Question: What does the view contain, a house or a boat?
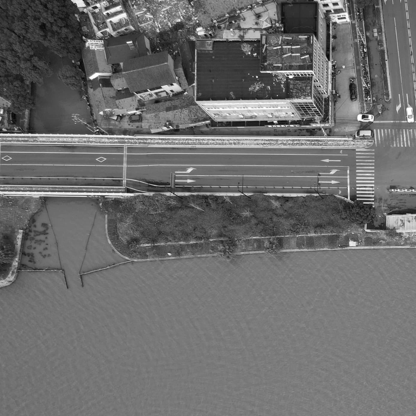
house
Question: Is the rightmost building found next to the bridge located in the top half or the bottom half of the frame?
top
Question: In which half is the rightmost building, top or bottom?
top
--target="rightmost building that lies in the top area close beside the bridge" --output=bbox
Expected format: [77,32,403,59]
[196,2,330,119]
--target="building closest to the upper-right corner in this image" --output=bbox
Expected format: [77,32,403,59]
[321,0,351,21]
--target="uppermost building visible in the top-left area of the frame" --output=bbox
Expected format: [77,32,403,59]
[74,0,139,38]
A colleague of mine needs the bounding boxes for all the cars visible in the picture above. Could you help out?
[406,106,414,124]
[358,113,375,122]
[7,111,17,127]
[356,130,374,139]
[349,84,357,101]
